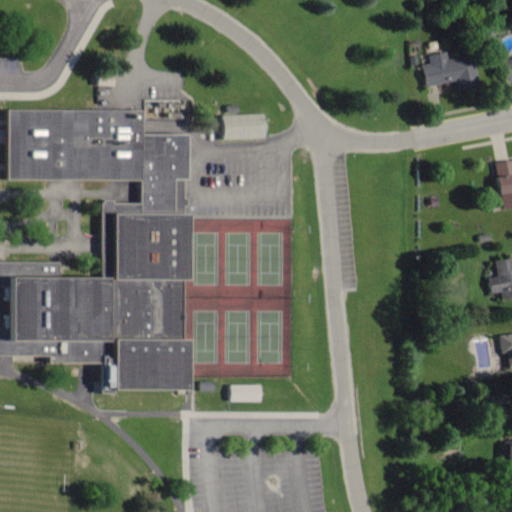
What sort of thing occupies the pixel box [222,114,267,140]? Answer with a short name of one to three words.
building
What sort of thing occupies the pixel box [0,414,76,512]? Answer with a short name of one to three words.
soccer field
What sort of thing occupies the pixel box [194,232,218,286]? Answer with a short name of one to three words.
tennis court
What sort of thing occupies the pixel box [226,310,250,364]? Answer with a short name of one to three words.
tennis court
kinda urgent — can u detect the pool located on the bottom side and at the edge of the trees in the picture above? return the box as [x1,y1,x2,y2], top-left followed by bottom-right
[469,335,500,378]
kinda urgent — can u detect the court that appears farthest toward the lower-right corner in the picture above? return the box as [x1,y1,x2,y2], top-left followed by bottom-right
[258,310,282,364]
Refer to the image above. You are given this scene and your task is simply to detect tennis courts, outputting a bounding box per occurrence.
[194,232,218,286]
[258,232,282,286]
[226,232,250,286]
[194,310,218,364]
[226,310,250,364]
[258,310,282,364]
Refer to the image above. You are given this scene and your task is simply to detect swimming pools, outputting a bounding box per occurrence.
[500,33,512,54]
[469,335,500,378]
